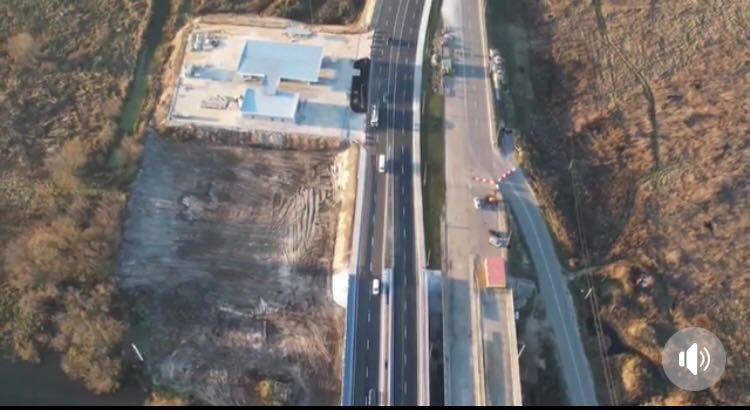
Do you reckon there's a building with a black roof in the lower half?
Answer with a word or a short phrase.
No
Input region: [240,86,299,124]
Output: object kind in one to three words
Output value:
building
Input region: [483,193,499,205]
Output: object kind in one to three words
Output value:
vehicle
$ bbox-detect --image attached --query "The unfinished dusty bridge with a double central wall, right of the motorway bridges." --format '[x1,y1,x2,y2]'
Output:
[439,283,521,410]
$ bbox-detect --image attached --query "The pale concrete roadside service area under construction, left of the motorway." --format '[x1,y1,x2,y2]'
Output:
[168,29,371,142]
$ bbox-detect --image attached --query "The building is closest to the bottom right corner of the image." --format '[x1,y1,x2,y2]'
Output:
[480,259,506,291]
